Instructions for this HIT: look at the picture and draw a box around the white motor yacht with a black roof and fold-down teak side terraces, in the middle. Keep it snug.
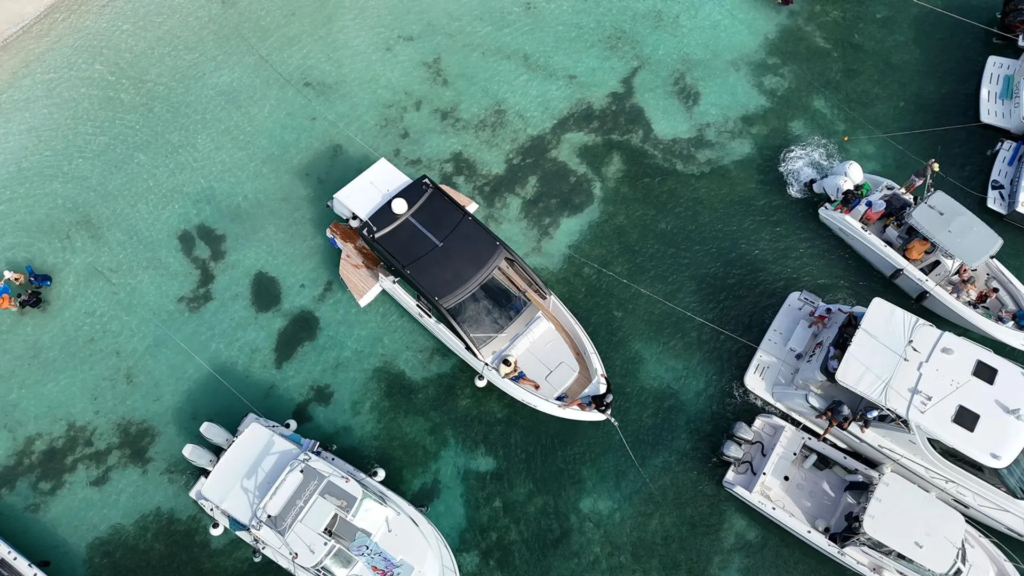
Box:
[328,157,621,432]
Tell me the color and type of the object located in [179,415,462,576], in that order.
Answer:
white boat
